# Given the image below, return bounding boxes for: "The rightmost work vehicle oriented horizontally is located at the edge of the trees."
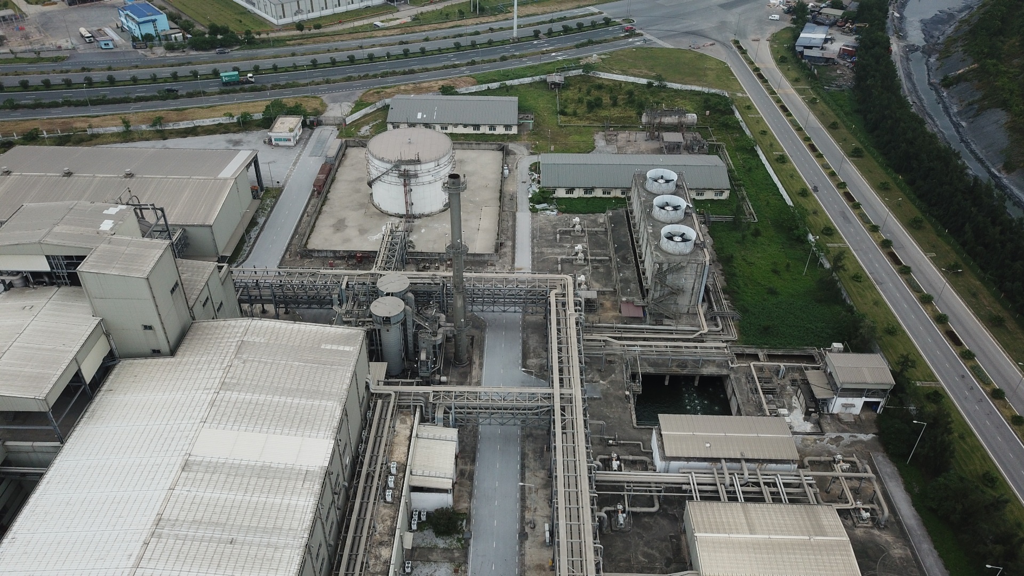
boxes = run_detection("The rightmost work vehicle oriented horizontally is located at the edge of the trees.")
[841,19,863,32]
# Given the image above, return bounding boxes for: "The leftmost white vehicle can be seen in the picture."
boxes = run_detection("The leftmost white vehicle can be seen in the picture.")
[78,28,92,43]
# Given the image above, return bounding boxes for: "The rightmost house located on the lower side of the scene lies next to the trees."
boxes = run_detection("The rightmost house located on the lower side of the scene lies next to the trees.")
[824,352,894,420]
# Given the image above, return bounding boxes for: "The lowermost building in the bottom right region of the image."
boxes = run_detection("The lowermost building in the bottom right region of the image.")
[682,499,863,576]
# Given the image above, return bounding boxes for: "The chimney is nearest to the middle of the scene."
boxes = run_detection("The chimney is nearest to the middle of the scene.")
[443,171,473,370]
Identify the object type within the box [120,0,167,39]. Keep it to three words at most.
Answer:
building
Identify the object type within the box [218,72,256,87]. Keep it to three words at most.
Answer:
vehicle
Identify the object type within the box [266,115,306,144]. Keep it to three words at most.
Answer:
building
